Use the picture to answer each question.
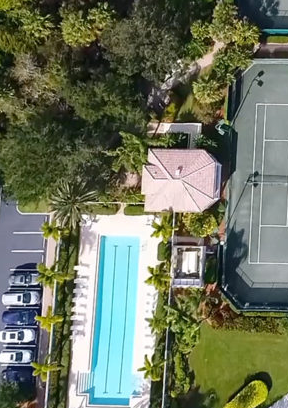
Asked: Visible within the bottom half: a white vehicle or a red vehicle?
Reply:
white vehicle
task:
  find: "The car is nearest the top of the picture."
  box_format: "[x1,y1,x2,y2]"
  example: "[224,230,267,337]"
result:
[6,273,41,289]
